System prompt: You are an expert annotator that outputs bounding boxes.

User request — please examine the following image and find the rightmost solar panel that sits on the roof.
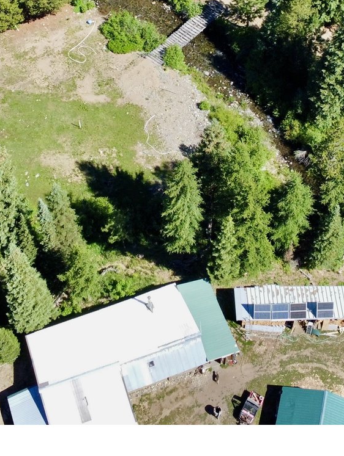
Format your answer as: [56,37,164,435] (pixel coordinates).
[316,298,334,317]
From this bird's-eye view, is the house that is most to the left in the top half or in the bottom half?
bottom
